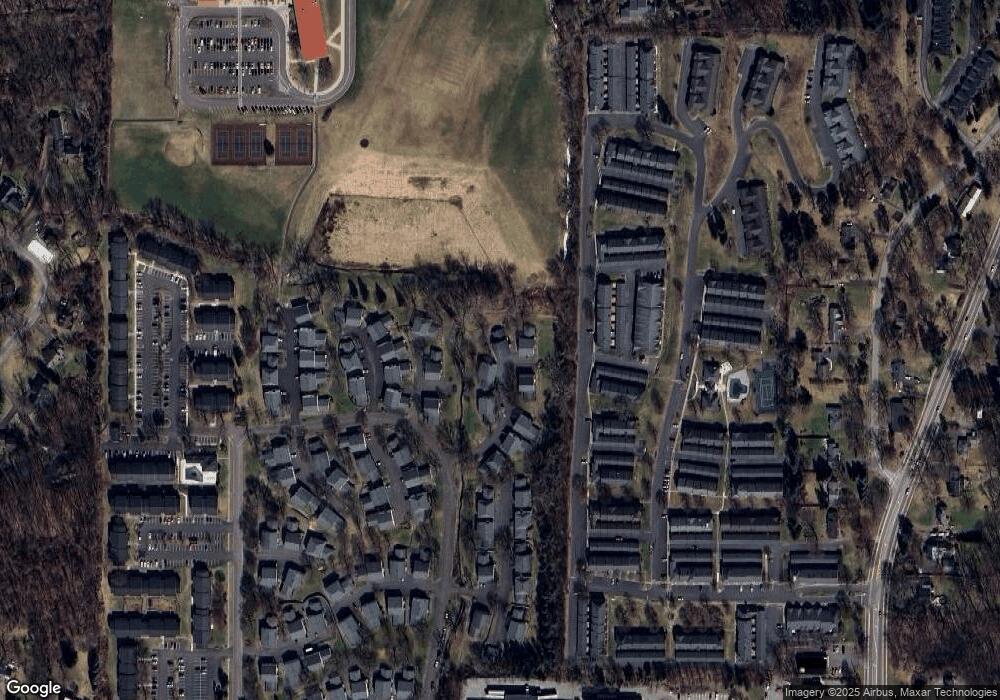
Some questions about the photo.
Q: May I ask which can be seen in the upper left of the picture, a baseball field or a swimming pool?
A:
baseball field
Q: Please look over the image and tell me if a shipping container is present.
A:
No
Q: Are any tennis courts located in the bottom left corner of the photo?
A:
No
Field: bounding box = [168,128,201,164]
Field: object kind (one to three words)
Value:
baseball field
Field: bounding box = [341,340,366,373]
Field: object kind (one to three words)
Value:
house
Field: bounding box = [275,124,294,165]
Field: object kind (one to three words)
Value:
tennis court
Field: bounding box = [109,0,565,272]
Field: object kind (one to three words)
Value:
sports field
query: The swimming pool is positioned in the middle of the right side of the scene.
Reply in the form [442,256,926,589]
[727,369,749,402]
